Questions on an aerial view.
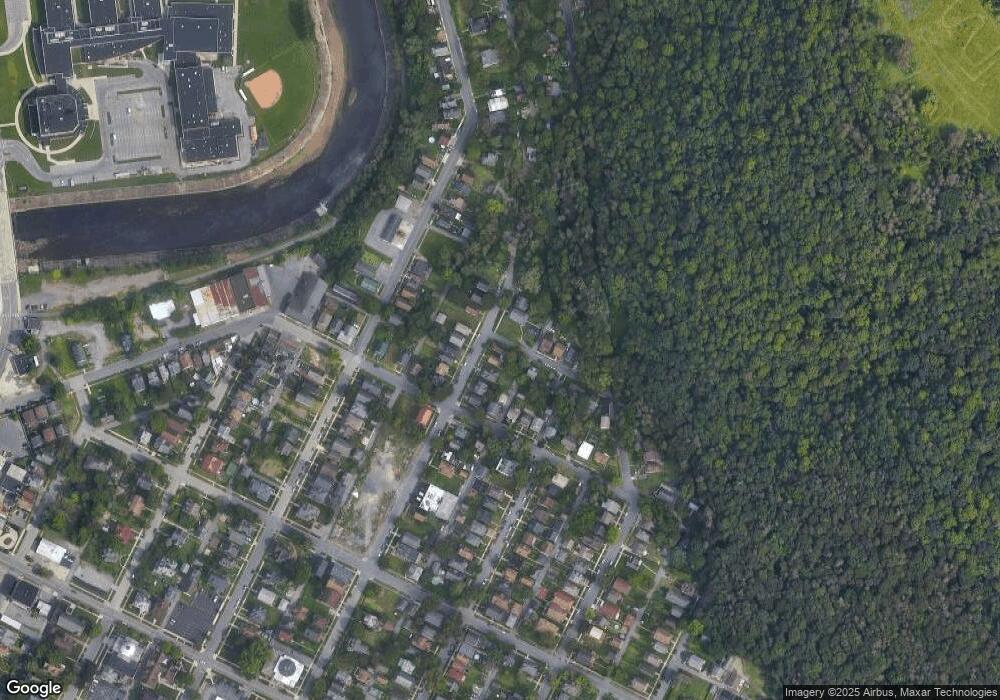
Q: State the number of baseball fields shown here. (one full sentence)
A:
In total, there is 1 baseball field in the scene.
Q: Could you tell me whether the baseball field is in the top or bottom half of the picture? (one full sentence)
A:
The baseball field sits in the top half of the picture.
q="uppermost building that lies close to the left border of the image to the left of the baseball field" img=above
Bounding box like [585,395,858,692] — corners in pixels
[28,0,241,163]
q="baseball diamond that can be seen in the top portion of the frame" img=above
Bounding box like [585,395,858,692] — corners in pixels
[238,42,314,142]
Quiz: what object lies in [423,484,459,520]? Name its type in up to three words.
building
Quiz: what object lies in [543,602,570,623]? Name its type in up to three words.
house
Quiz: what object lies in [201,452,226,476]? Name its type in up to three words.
house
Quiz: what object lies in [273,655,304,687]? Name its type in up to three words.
building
